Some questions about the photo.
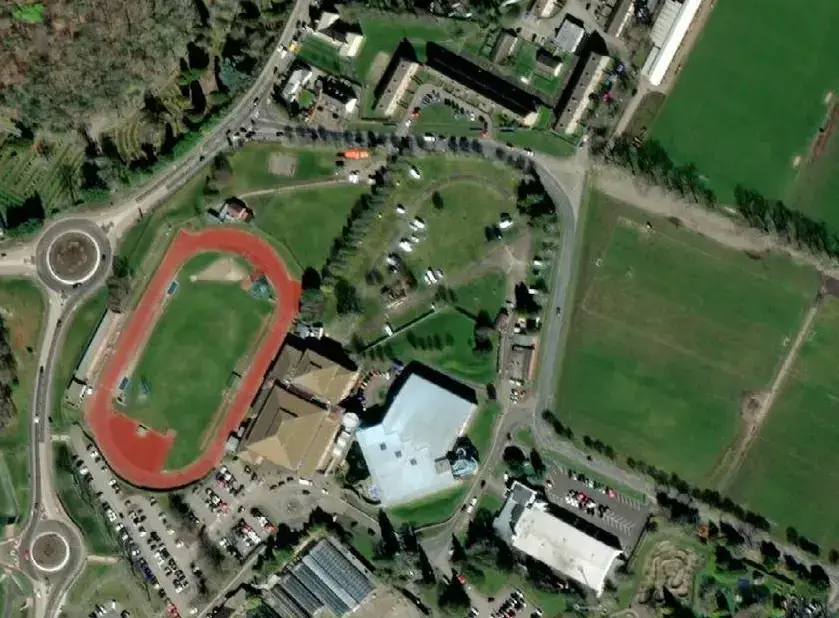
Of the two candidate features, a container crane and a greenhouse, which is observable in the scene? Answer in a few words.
greenhouse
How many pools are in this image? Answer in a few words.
none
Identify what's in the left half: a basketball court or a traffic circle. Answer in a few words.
traffic circle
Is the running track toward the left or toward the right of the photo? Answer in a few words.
left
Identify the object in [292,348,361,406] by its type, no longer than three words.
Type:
building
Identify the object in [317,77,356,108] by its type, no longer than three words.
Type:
house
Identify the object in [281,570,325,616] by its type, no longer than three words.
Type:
greenhouse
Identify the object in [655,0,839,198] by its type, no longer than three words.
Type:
sports field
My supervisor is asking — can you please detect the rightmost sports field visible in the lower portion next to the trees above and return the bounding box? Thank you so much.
[738,299,839,552]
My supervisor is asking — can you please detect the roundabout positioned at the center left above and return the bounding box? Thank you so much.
[33,216,114,297]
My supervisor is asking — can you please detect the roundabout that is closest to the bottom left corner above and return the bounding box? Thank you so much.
[15,516,85,586]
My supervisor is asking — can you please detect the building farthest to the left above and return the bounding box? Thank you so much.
[67,379,87,404]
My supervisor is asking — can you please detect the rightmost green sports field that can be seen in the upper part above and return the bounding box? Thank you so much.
[792,120,839,252]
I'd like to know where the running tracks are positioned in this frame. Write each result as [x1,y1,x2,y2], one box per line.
[86,229,301,489]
